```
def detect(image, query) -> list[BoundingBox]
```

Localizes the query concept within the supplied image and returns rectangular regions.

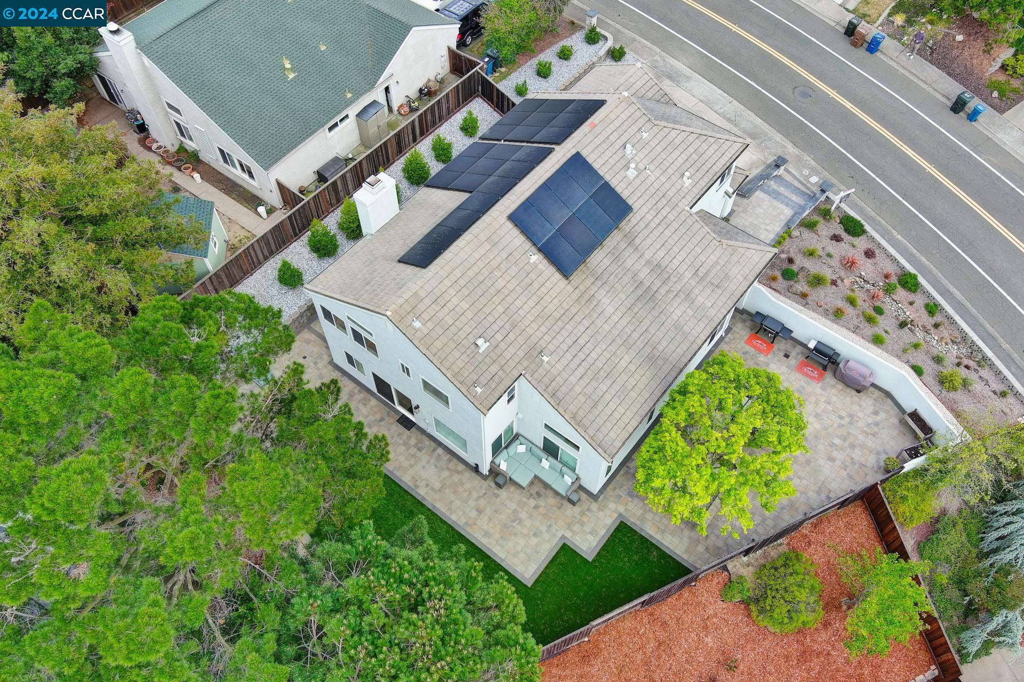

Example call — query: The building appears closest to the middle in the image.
[302,59,781,496]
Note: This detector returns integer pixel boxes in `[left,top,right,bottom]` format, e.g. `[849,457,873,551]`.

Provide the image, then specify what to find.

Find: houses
[302,59,781,496]
[80,0,462,209]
